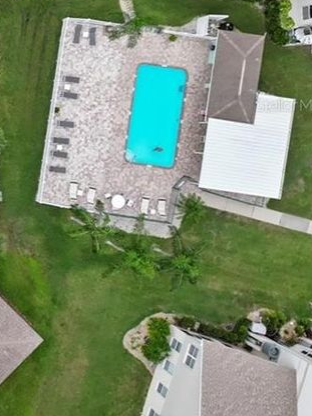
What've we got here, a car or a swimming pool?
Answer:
swimming pool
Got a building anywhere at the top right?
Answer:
Yes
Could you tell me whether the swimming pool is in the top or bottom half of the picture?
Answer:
top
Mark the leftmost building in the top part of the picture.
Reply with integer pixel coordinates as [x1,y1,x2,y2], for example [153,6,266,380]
[177,28,297,198]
